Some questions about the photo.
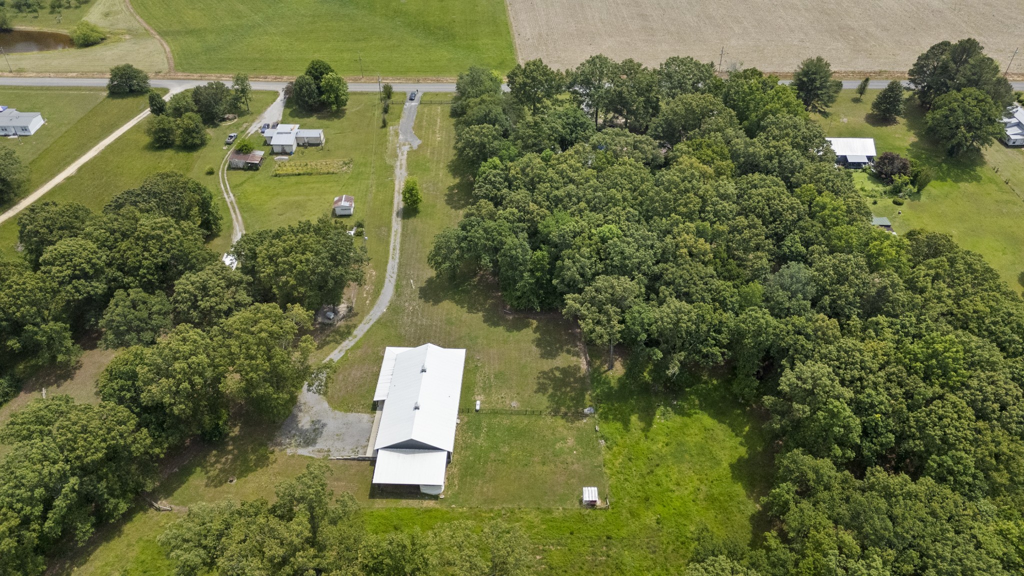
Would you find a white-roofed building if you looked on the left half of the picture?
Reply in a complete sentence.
Yes, you'll find a white-roofed building on the left half of the picture.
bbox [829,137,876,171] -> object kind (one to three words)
house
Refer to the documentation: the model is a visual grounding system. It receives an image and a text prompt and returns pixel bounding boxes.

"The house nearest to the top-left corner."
[0,104,45,138]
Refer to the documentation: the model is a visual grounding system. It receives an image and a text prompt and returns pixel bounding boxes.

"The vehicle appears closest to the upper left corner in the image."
[222,132,242,144]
